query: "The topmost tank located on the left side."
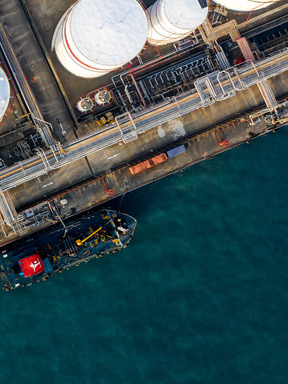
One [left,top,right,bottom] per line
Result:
[52,0,152,85]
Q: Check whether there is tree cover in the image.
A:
No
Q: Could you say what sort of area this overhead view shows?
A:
industrial area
